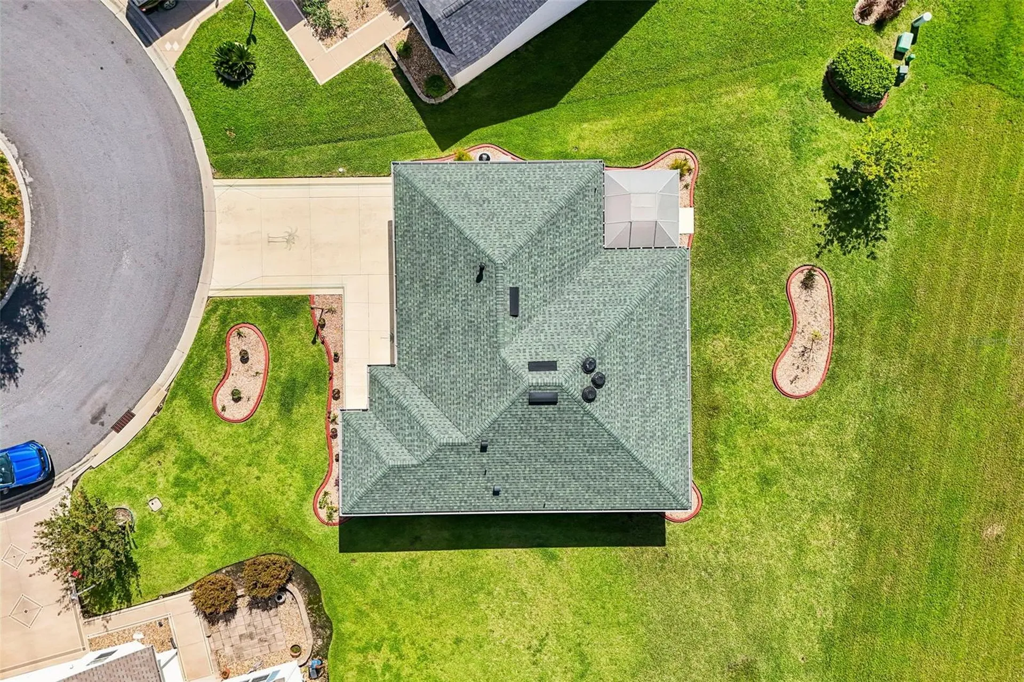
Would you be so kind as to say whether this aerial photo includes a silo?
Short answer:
No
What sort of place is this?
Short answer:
residential area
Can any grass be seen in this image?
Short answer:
Yes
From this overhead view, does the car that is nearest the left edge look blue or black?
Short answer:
blue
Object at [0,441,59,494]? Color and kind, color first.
blue car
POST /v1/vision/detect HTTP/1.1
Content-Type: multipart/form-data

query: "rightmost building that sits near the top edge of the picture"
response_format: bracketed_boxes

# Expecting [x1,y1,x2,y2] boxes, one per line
[400,0,593,90]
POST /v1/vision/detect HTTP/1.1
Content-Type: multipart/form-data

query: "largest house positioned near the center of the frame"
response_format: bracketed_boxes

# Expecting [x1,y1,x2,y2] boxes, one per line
[340,159,692,514]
